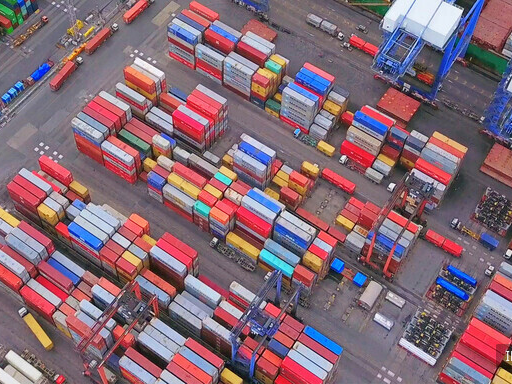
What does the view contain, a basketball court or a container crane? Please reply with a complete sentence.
Of the two, only a container crane appears.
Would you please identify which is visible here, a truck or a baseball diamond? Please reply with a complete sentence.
Of the two, only a truck appears.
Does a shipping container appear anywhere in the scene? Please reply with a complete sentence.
Yes, looking at the shot, I can spot a shipping container.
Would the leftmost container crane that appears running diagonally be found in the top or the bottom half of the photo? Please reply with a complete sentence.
Seen from above, the leftmost container crane that appears running diagonally lies in the bottom half of the view.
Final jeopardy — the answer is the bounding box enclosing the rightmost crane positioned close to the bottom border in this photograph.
[227,267,305,384]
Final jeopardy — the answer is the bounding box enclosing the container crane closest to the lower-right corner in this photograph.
[358,169,437,277]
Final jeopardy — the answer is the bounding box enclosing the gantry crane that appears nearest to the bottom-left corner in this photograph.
[73,274,163,384]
